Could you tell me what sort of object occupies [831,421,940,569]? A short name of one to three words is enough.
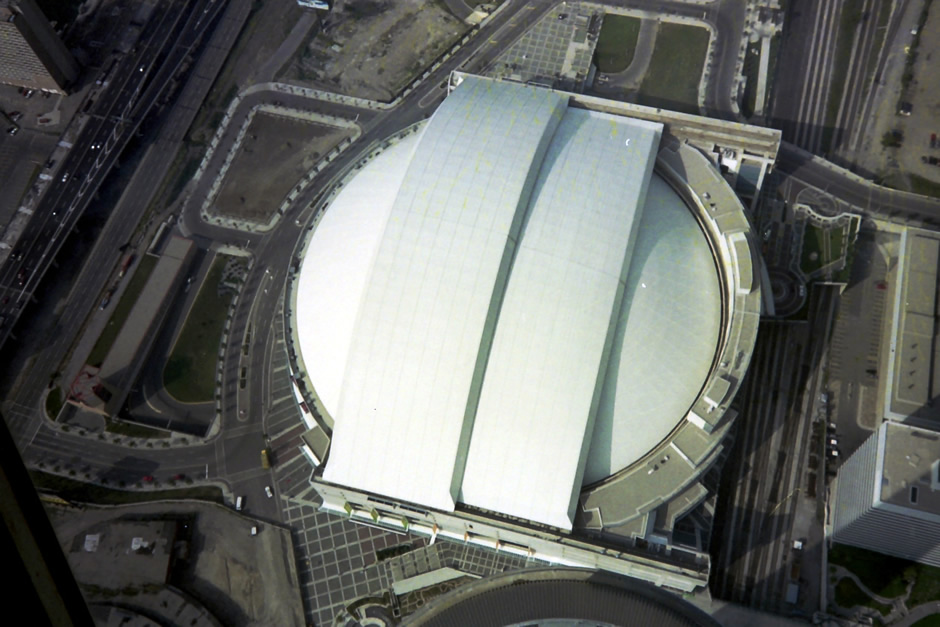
building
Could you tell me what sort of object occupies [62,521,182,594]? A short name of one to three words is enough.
building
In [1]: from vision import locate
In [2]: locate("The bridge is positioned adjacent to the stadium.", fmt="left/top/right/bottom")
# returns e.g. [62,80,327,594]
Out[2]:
[772,140,940,233]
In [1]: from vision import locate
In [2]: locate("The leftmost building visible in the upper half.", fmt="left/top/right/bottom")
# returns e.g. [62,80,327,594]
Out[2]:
[0,0,84,99]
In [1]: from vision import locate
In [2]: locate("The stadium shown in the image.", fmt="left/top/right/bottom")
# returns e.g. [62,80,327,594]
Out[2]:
[285,73,780,599]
